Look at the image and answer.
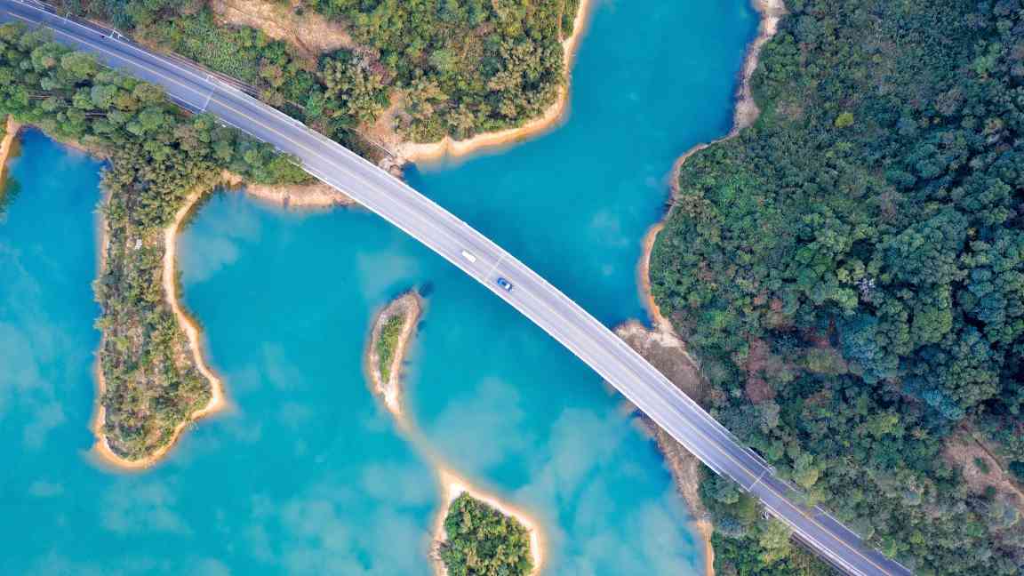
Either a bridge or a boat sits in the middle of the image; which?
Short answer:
bridge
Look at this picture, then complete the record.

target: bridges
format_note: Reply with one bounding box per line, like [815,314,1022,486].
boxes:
[203,77,770,489]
